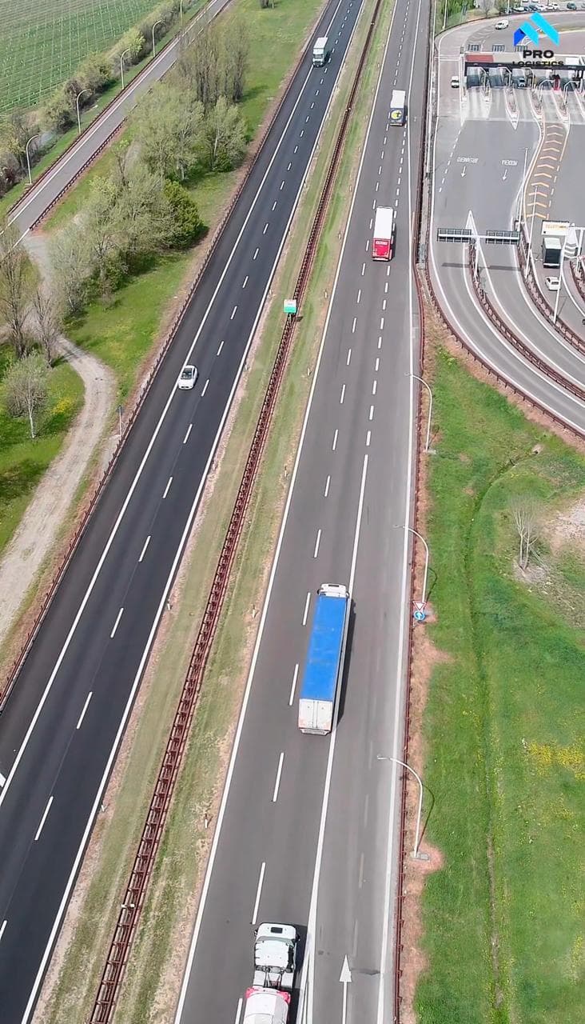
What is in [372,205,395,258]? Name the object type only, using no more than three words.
truck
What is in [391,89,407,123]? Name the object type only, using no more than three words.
vehicle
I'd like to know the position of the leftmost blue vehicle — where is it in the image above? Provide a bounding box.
[299,584,351,734]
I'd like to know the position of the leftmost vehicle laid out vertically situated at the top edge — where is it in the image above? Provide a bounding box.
[314,35,331,65]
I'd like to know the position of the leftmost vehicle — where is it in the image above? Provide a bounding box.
[176,362,197,384]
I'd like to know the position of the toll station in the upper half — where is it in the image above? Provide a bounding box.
[451,40,585,123]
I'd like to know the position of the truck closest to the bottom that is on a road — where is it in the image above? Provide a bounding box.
[241,922,300,1024]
